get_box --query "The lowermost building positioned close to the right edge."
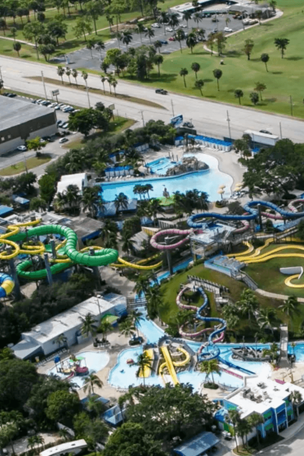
[223,375,304,442]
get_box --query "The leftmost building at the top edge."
[170,1,198,20]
